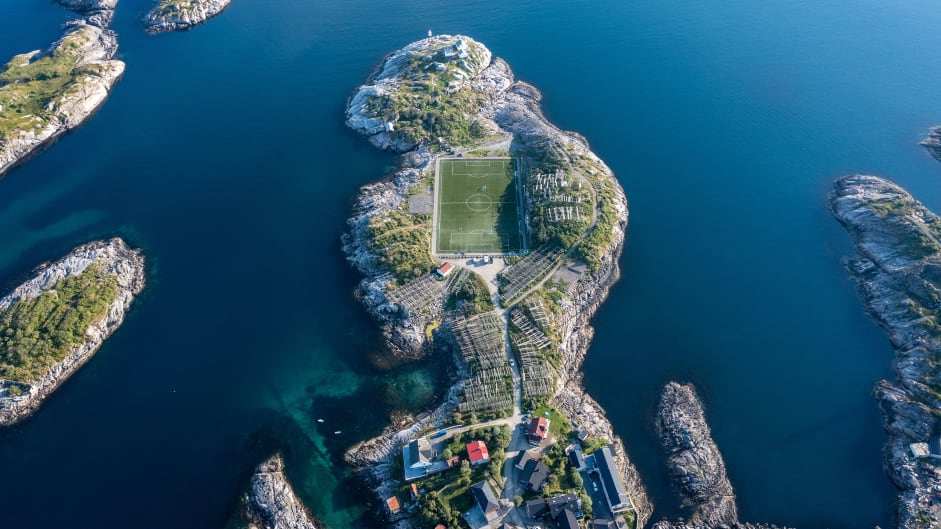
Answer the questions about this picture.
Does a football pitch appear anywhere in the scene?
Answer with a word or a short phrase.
Yes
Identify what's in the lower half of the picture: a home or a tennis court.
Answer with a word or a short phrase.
home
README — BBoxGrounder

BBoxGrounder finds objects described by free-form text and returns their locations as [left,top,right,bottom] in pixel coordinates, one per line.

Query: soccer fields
[432,158,527,255]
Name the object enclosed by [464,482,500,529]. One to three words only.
house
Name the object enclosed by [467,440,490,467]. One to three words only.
house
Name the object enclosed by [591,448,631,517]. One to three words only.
building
